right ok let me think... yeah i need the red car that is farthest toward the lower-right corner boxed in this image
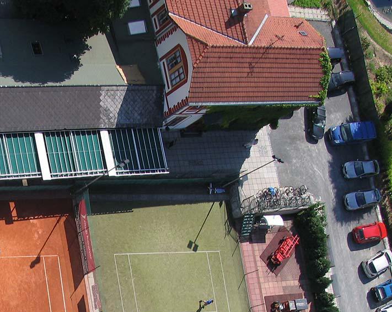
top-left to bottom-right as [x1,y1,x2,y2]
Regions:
[352,220,390,244]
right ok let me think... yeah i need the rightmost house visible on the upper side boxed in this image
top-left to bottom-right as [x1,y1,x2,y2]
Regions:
[134,0,339,143]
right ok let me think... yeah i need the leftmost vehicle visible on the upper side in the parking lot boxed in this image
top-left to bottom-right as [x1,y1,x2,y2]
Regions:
[307,98,331,147]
